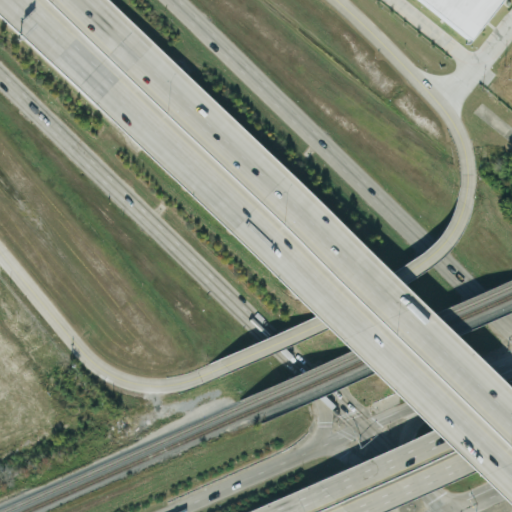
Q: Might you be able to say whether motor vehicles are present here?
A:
Yes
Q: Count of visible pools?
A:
zero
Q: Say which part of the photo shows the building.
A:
top right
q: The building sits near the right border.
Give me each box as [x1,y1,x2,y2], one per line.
[416,0,509,47]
